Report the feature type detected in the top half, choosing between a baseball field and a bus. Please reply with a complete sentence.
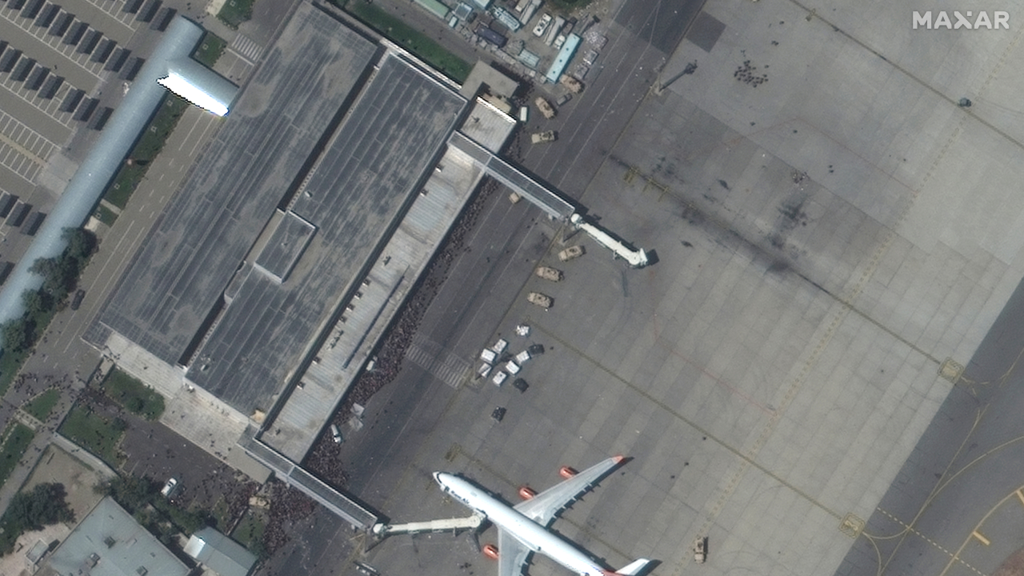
What appears in the top half is a bus.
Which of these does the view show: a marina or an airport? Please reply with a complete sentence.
The picture captures an airport.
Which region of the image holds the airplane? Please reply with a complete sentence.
You can find the airplane in the bottom area of the picture.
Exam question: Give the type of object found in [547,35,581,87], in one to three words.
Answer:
bus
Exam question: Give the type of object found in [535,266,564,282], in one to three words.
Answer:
vehicle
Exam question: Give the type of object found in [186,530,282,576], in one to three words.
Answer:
building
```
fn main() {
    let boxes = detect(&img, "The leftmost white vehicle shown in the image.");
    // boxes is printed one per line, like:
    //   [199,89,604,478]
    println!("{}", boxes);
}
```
[160,477,178,497]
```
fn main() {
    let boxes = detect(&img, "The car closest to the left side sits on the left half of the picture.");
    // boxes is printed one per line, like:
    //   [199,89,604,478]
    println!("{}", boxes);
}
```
[71,290,85,309]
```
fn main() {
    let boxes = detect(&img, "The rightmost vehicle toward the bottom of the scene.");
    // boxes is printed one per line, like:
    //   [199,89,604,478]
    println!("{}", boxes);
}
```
[694,534,706,563]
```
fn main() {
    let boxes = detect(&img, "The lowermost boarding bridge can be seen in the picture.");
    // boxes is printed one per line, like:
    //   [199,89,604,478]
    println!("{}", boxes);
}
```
[372,507,492,542]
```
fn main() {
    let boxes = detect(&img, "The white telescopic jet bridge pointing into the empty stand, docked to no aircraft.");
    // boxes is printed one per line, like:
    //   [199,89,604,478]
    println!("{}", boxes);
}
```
[570,213,653,269]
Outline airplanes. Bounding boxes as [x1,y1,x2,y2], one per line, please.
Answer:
[434,457,653,576]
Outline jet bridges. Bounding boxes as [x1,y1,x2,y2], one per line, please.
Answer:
[570,213,653,269]
[372,507,492,542]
